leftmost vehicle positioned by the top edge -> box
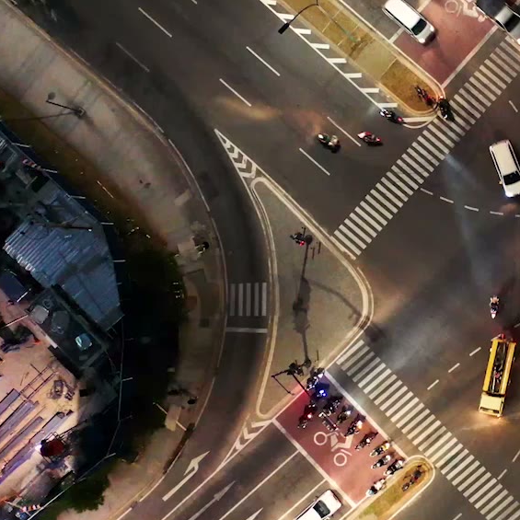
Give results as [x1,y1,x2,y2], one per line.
[382,0,434,43]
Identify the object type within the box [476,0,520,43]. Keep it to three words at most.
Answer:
car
